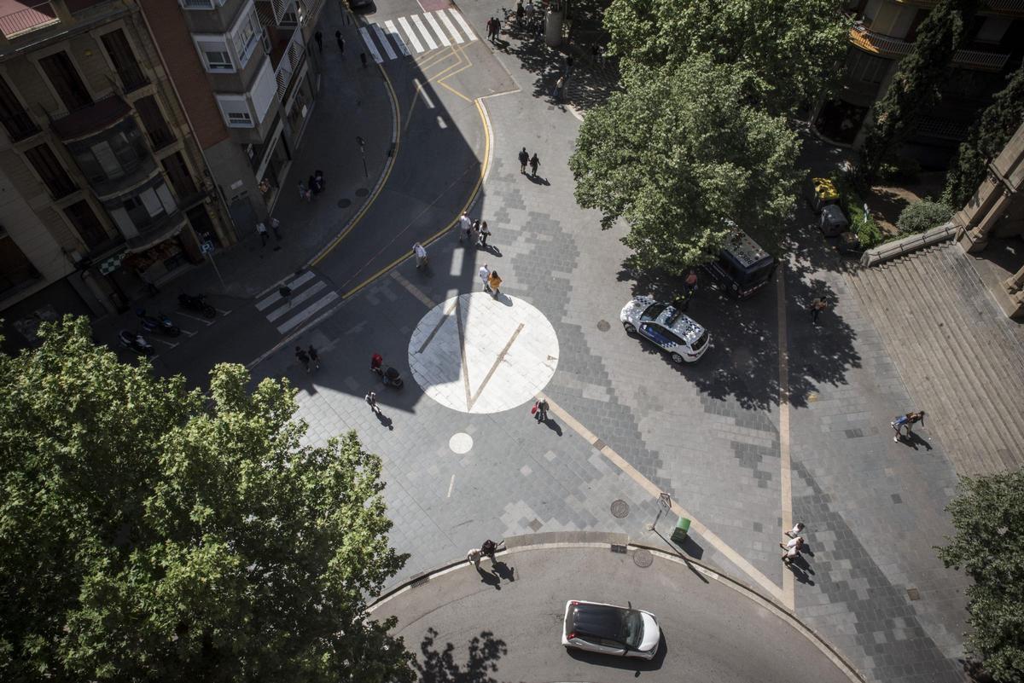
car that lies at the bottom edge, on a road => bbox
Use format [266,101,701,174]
[562,608,657,671]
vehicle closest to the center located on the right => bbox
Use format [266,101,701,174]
[620,295,711,366]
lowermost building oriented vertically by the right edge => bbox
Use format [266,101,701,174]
[952,190,1024,347]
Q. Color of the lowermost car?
black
